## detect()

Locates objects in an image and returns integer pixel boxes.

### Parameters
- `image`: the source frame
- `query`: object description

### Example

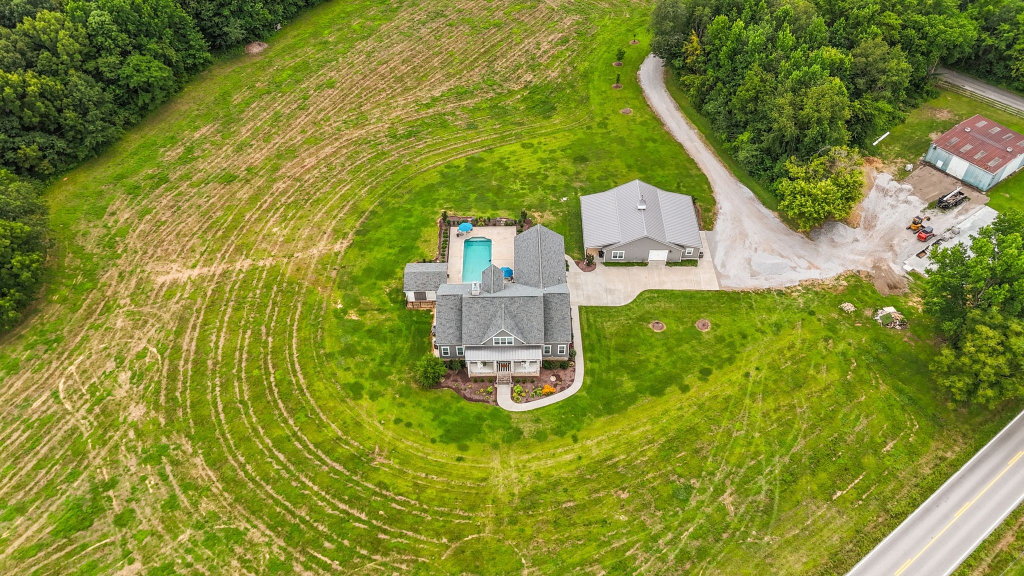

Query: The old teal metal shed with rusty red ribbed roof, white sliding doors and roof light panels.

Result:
[925,113,1024,191]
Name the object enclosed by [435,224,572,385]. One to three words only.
house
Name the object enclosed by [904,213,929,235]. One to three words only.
work vehicle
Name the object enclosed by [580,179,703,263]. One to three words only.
barn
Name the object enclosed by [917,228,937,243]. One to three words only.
work vehicle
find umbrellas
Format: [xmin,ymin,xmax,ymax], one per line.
[459,224,472,238]
[502,268,514,283]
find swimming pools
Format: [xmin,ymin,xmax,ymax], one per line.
[461,236,493,283]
